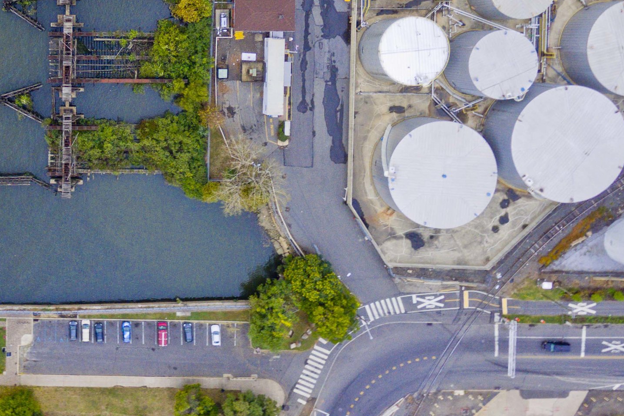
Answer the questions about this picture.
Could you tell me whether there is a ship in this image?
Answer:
No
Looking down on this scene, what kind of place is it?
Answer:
industrial area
